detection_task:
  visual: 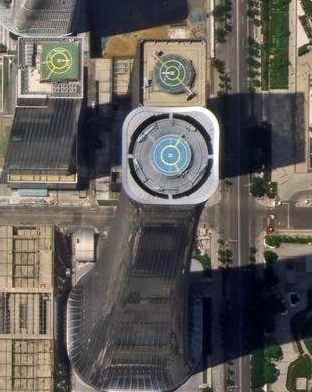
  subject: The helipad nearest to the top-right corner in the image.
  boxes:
[149,52,190,92]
